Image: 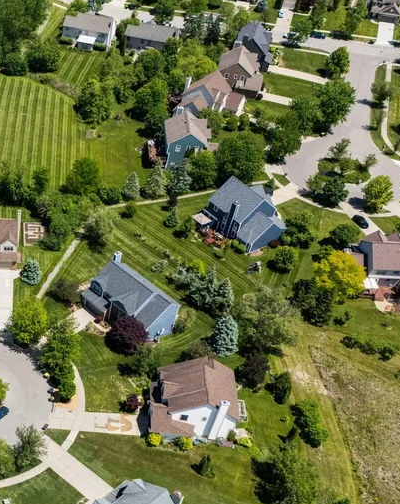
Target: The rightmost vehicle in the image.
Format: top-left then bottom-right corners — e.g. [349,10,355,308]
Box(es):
[351,215,371,229]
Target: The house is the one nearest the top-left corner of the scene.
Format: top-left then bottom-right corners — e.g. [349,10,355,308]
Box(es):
[72,12,115,54]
